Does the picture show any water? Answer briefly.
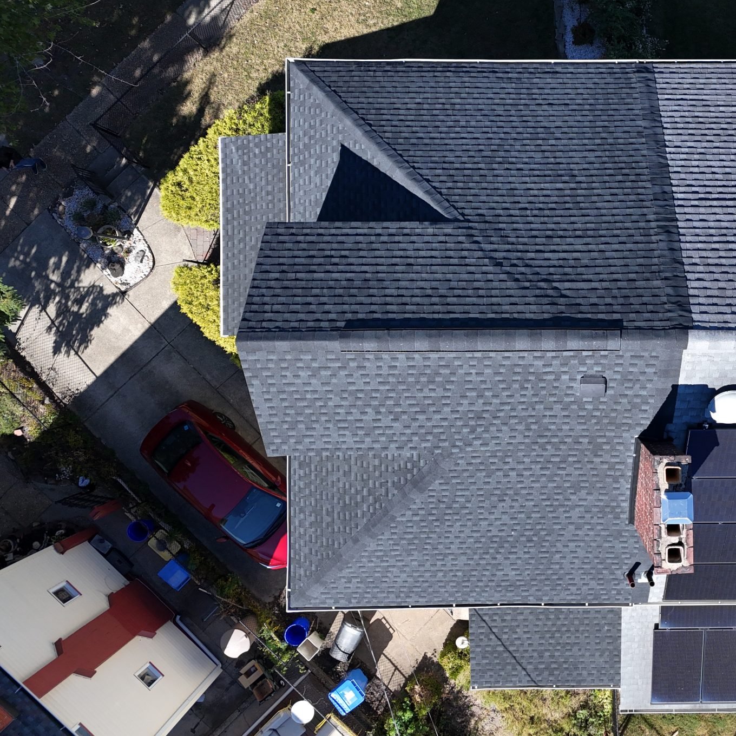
No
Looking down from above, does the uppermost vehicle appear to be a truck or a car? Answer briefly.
car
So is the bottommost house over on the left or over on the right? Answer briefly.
left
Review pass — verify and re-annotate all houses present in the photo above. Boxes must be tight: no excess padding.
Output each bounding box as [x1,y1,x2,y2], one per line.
[0,546,222,736]
[223,56,736,712]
